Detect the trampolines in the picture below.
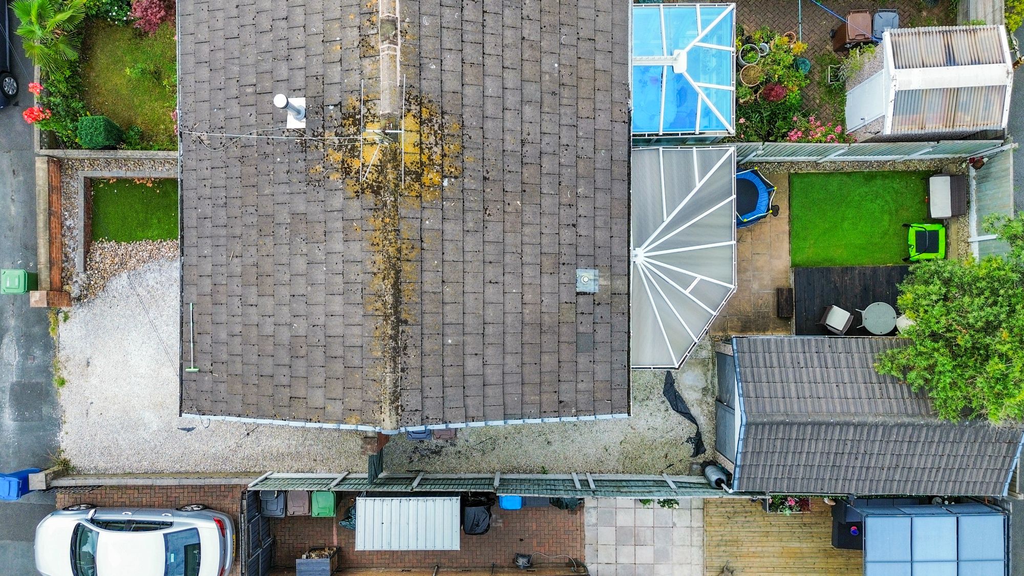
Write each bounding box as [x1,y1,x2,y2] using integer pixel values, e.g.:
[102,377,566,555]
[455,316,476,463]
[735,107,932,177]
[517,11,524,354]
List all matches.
[897,223,945,262]
[736,162,782,223]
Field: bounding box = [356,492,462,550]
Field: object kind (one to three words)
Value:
shed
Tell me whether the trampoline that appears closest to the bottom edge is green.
Yes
